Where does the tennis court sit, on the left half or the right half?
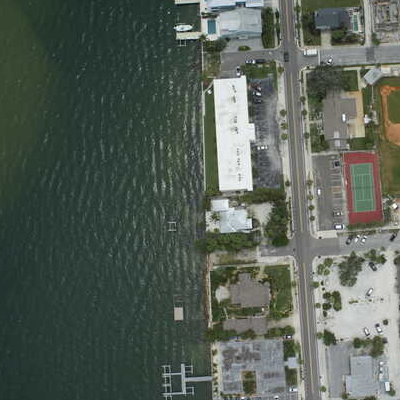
right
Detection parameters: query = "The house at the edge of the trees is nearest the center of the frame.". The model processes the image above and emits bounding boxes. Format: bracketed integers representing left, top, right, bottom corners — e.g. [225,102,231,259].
[211,199,253,233]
